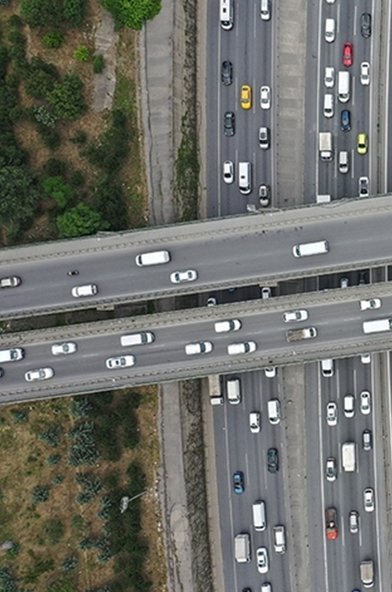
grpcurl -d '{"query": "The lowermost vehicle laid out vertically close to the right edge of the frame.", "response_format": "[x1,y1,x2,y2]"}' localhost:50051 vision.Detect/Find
[359,557,374,589]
